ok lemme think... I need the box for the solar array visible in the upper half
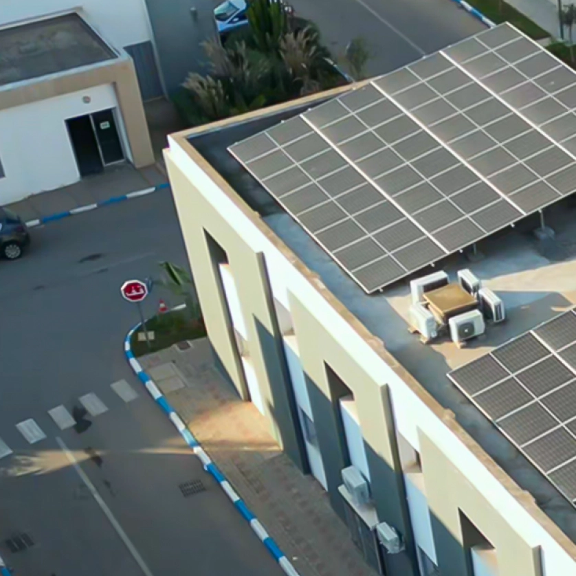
[230,24,576,292]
